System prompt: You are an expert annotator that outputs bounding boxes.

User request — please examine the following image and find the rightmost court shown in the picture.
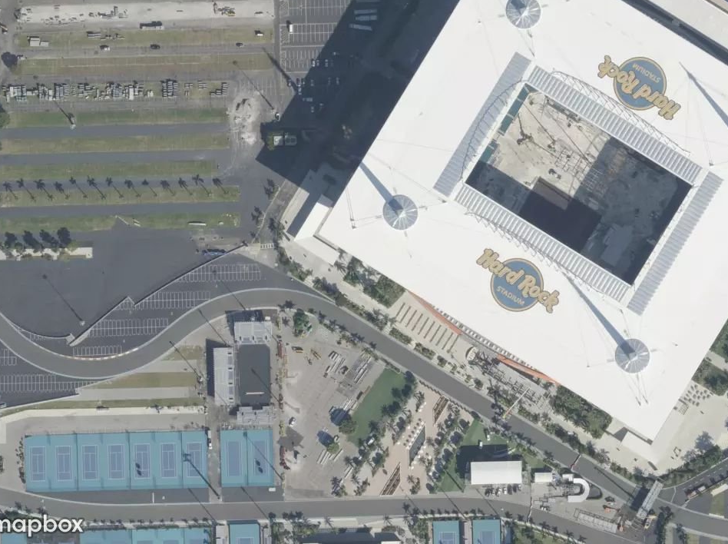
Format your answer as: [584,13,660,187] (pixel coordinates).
[473,519,500,544]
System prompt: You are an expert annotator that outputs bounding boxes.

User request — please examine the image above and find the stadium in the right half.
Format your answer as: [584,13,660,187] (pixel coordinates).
[294,0,728,464]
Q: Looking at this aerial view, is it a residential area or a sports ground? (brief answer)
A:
sports ground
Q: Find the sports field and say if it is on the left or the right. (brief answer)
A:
right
